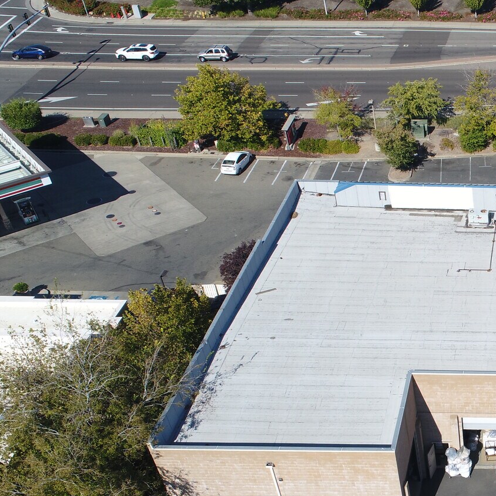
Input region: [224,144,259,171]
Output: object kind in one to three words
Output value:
car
